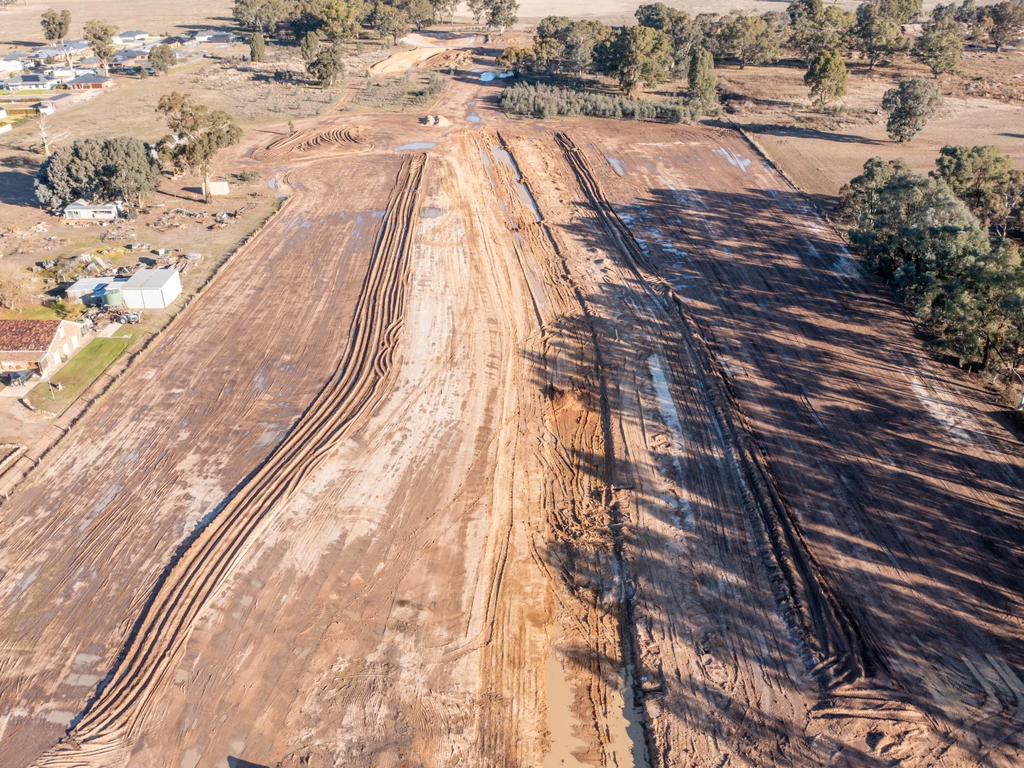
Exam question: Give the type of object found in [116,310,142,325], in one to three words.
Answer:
work vehicle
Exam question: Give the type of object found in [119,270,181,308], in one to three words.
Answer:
shed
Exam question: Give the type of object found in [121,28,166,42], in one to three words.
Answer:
house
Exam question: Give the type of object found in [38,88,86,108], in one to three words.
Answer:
building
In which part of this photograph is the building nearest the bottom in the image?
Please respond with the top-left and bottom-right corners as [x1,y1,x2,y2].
[0,317,91,379]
